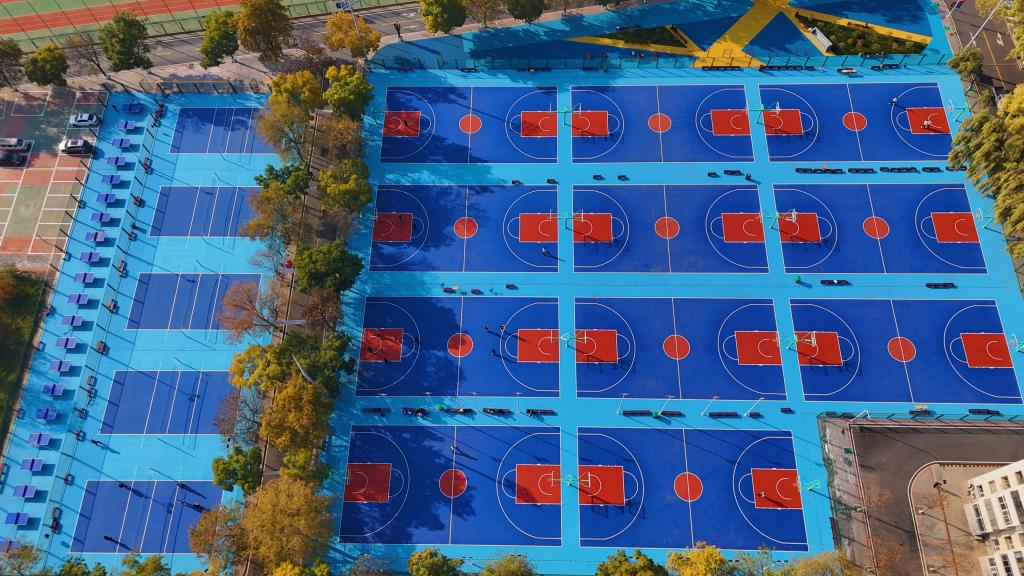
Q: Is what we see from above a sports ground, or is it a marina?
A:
sports ground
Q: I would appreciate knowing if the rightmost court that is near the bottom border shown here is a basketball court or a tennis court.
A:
basketball court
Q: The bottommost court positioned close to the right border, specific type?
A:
basketball court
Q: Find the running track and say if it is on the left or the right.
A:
left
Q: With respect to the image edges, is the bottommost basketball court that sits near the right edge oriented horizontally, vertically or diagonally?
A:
horizontally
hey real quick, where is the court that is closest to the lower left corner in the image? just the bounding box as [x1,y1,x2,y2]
[69,467,221,569]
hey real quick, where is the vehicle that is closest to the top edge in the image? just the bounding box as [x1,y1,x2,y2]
[67,112,97,126]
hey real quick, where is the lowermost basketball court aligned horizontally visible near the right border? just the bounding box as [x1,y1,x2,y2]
[791,298,1022,403]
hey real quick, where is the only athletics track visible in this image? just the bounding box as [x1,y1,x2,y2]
[0,0,413,52]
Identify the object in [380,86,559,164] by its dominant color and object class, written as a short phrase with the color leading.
blue basketball court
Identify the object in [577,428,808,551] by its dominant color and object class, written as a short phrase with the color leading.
blue basketball court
